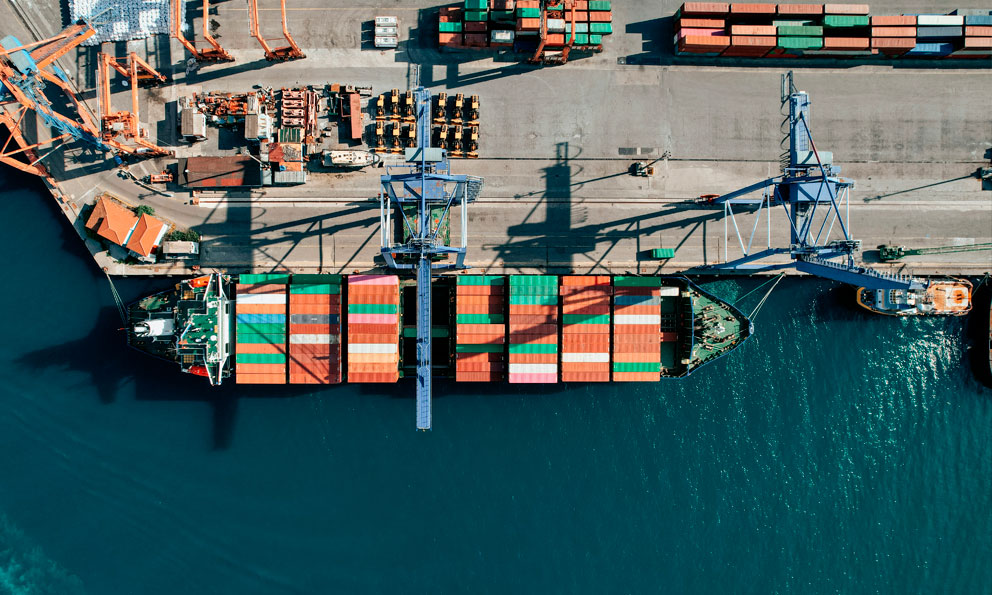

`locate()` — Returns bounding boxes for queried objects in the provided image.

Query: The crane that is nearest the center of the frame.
[377,57,480,432]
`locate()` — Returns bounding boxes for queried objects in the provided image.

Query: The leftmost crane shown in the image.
[0,8,122,181]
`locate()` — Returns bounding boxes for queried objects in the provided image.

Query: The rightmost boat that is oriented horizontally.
[852,279,973,316]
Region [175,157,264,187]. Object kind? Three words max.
building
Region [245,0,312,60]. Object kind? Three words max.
container crane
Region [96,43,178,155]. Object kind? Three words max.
container crane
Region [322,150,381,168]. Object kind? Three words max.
boat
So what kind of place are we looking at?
port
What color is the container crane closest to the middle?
blue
